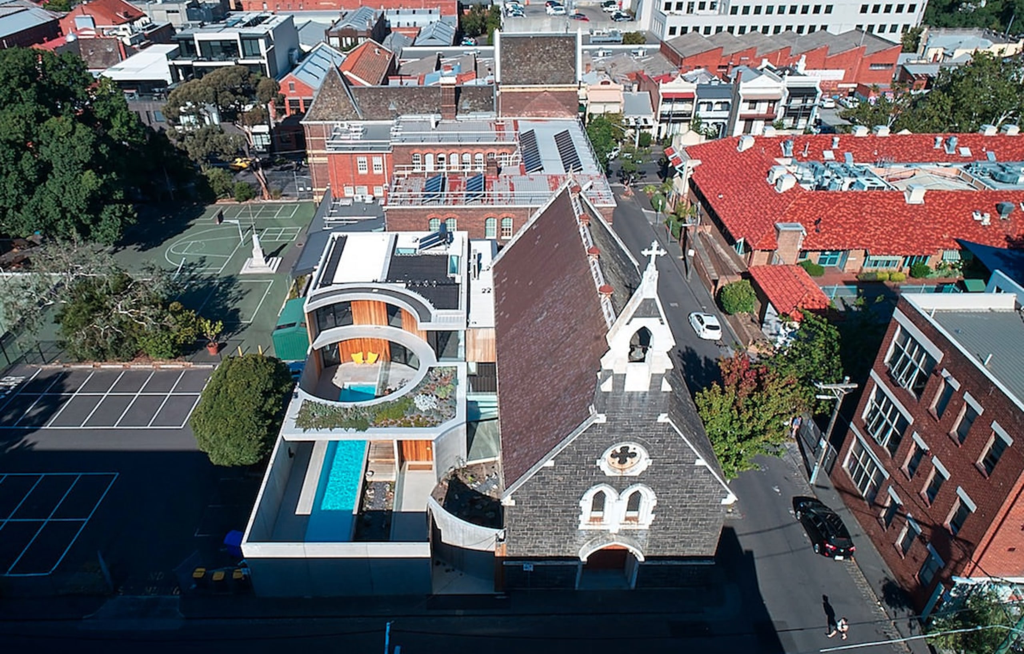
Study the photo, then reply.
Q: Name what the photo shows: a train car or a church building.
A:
church building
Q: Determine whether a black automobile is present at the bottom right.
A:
Yes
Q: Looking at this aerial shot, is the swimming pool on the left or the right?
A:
left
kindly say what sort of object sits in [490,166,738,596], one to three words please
church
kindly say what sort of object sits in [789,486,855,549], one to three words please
car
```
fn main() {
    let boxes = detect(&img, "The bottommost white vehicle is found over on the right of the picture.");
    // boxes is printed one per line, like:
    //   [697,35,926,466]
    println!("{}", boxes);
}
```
[685,307,725,338]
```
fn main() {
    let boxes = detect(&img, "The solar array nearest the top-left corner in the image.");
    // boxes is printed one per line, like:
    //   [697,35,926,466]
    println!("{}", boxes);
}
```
[425,175,443,203]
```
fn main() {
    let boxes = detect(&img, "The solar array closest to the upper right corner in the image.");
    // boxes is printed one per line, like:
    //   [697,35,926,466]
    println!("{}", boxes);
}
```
[554,129,583,172]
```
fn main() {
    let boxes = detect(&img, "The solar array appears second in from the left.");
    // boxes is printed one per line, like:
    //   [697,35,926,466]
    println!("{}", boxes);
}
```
[466,175,484,203]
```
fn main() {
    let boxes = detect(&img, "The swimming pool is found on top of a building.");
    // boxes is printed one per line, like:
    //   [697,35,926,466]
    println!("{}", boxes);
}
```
[302,441,366,542]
